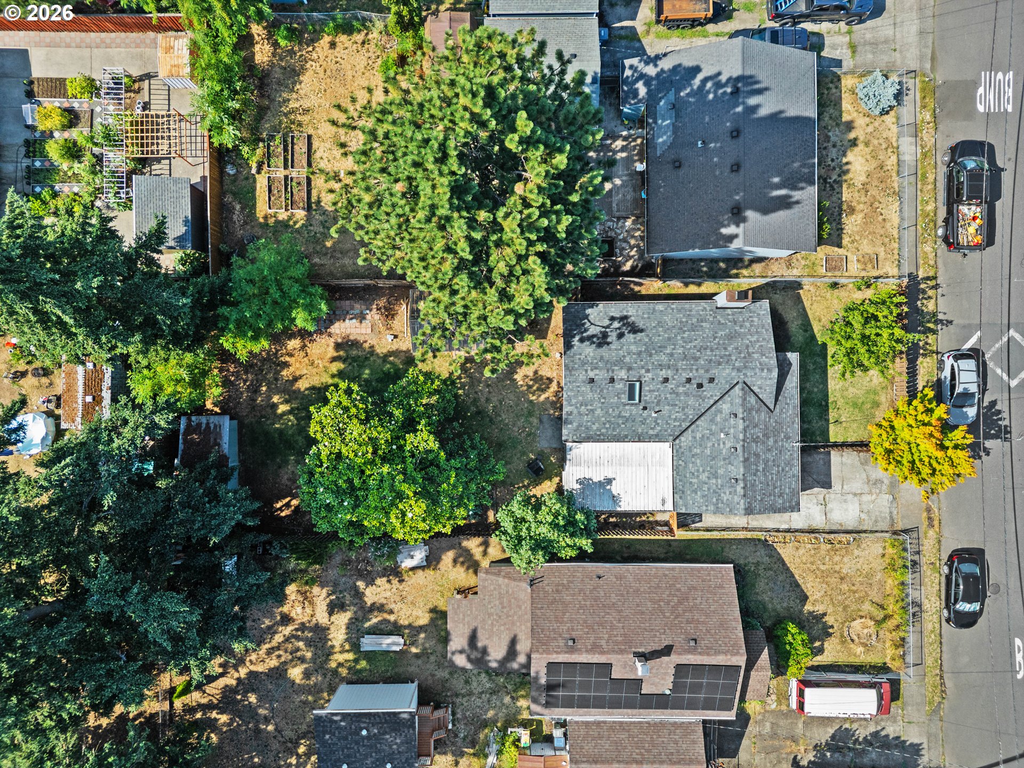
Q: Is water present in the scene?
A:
No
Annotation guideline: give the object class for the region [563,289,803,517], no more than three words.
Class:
house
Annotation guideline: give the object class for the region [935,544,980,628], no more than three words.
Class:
car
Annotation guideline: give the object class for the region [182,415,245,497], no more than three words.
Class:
shed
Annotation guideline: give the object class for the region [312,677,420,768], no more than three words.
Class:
house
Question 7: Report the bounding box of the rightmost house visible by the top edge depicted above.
[618,38,820,254]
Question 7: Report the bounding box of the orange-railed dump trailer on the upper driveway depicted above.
[654,0,733,32]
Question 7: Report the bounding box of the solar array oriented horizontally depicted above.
[545,663,740,709]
